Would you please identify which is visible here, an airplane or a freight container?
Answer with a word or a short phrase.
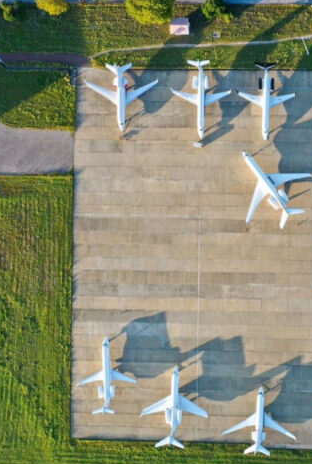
airplane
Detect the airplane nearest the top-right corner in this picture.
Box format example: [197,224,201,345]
[236,63,295,139]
